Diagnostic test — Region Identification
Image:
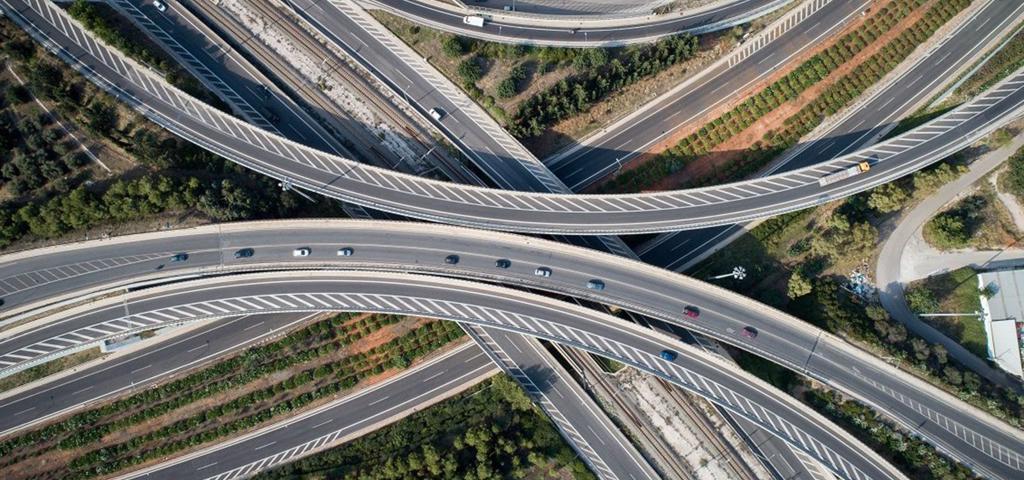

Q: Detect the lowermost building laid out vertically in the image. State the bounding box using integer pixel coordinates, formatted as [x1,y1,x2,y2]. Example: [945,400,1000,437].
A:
[991,318,1022,377]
